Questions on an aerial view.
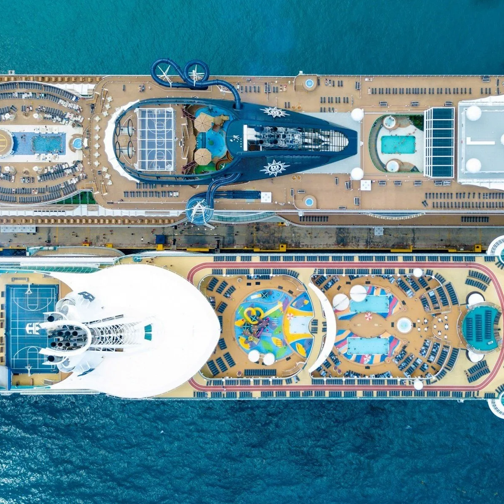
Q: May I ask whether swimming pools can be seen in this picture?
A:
Yes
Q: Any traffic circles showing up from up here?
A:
No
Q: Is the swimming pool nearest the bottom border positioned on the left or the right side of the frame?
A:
right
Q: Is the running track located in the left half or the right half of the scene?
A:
right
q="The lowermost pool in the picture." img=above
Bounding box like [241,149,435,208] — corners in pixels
[334,330,403,365]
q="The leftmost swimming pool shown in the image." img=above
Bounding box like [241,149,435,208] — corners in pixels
[32,135,63,153]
